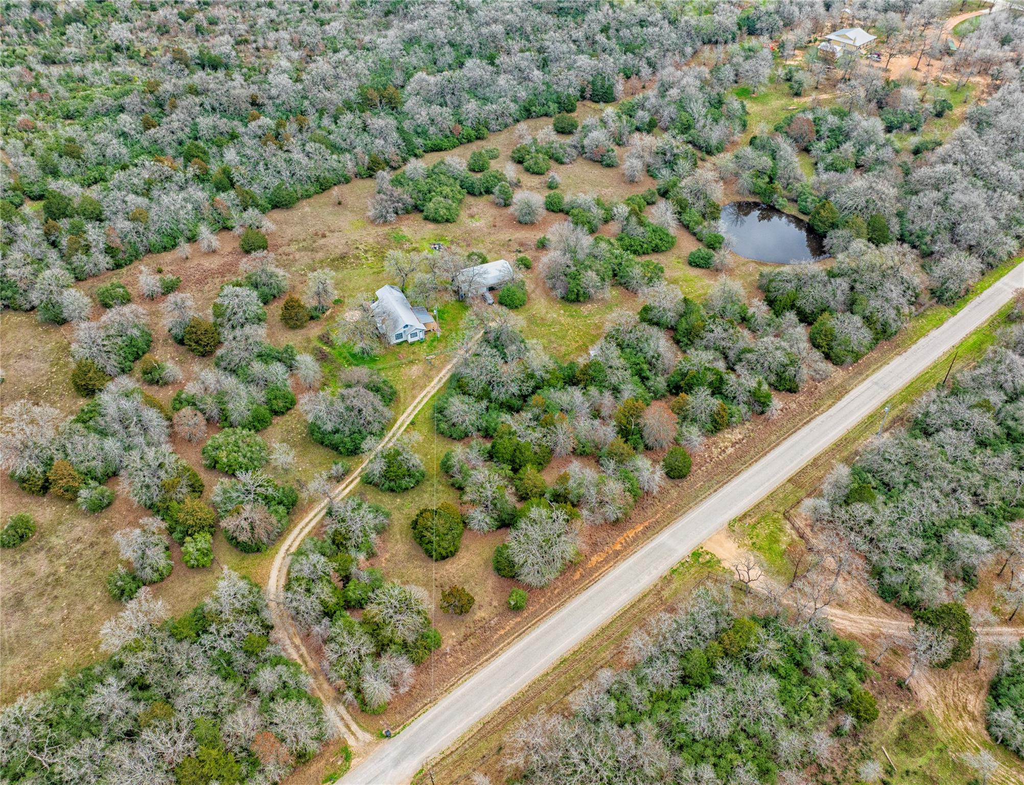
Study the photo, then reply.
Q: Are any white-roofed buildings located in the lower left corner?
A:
No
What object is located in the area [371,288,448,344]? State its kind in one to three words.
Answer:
house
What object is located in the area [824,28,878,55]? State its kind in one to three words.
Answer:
house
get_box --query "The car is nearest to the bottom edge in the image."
[482,291,496,303]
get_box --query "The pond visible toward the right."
[716,201,843,268]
